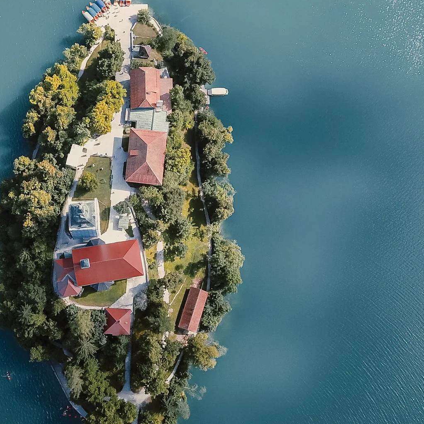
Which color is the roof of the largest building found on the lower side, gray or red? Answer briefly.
red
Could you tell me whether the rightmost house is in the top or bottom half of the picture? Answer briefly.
bottom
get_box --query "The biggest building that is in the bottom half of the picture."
[54,238,143,297]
